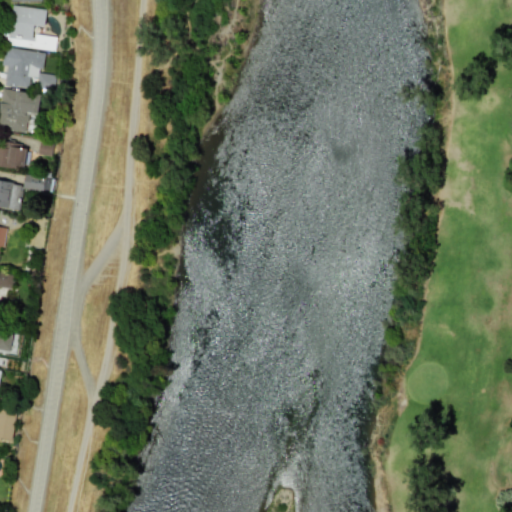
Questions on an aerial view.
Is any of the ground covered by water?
Yes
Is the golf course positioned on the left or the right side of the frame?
right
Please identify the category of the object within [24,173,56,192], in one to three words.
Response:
shed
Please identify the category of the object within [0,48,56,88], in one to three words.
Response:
house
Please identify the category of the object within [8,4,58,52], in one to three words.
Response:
house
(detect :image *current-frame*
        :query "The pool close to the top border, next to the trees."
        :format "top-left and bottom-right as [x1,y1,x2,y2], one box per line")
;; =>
[48,16,62,36]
